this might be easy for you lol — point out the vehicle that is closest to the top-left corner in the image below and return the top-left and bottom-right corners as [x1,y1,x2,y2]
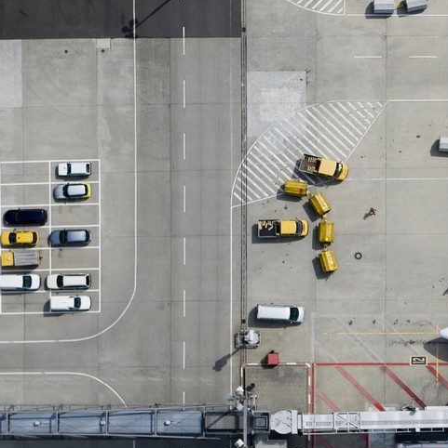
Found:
[58,160,92,177]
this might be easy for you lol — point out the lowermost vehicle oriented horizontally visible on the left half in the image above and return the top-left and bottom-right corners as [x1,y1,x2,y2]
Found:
[50,293,92,312]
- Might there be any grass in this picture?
No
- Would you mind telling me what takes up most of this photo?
paved ground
